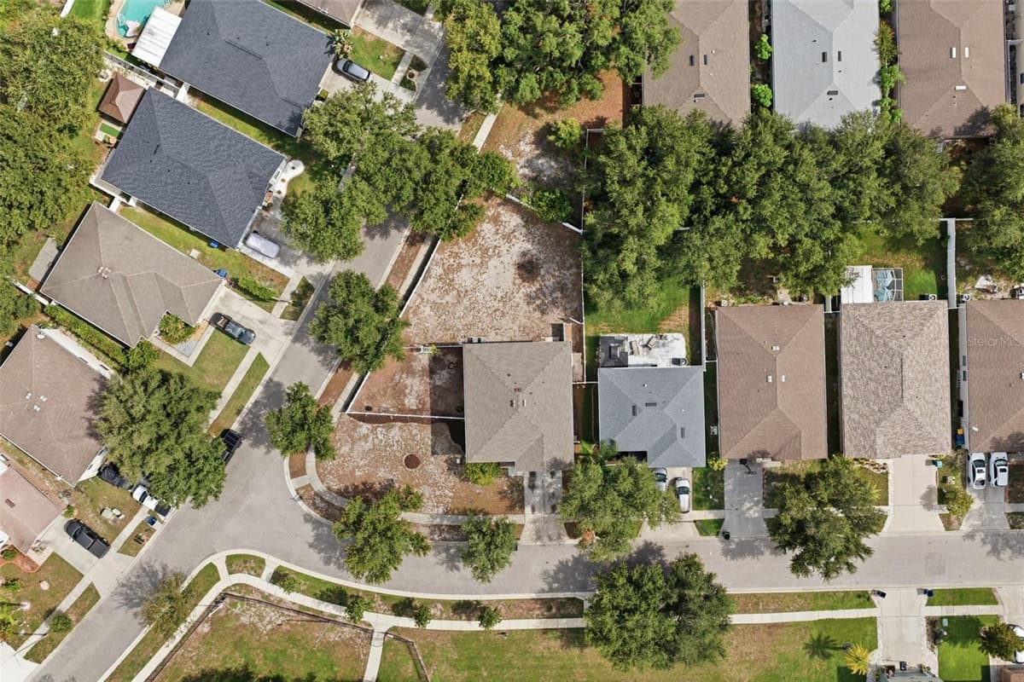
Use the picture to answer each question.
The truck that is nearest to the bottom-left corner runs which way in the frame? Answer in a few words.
at an angle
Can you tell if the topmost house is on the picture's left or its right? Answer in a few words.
left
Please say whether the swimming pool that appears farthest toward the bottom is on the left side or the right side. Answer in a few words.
right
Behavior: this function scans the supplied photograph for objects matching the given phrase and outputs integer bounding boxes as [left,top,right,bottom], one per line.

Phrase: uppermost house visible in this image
[295,0,368,30]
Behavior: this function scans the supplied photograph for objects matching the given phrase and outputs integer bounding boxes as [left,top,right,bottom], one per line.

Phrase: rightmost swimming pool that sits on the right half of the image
[875,268,896,301]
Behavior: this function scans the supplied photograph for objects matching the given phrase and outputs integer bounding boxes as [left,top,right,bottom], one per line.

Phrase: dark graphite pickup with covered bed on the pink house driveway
[63,519,112,561]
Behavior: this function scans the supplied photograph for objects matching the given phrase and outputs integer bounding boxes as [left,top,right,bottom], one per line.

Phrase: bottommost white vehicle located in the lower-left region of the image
[129,487,176,523]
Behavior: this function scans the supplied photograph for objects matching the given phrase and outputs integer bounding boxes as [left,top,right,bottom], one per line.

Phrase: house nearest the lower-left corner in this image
[0,448,67,554]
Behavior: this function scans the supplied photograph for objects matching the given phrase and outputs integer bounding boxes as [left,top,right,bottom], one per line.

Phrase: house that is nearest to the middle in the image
[463,324,574,476]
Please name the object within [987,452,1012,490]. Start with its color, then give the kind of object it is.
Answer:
white car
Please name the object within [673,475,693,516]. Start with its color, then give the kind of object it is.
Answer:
white car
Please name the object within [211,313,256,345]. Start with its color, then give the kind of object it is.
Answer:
gray car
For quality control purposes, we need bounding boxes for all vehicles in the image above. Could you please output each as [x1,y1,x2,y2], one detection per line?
[651,468,671,505]
[96,464,120,485]
[211,313,256,345]
[966,452,989,491]
[63,519,112,561]
[332,55,374,84]
[129,487,176,523]
[987,452,1012,490]
[212,426,247,471]
[673,475,693,516]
